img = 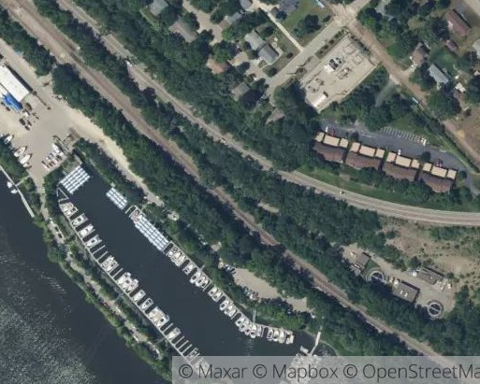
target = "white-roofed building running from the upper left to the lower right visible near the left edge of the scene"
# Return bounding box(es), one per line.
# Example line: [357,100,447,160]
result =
[0,65,30,101]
